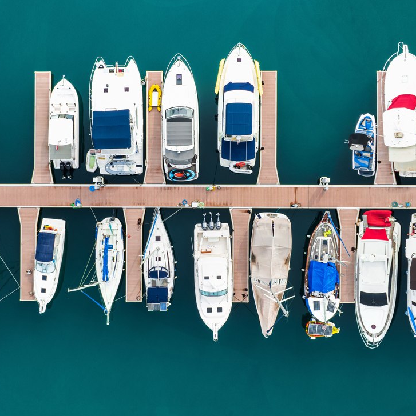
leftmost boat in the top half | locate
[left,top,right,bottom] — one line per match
[49,75,81,180]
